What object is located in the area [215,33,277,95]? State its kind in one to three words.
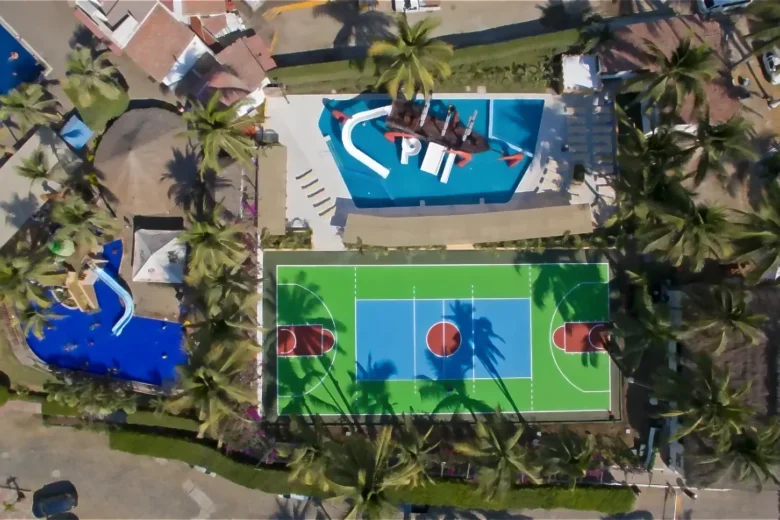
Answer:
house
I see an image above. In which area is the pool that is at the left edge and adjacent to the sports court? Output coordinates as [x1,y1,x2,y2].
[21,235,189,388]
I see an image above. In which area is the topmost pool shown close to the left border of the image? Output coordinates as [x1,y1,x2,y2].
[0,24,53,116]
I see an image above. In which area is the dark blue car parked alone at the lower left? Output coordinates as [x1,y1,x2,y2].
[30,487,81,518]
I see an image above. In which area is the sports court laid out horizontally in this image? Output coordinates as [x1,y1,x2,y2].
[264,250,622,419]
